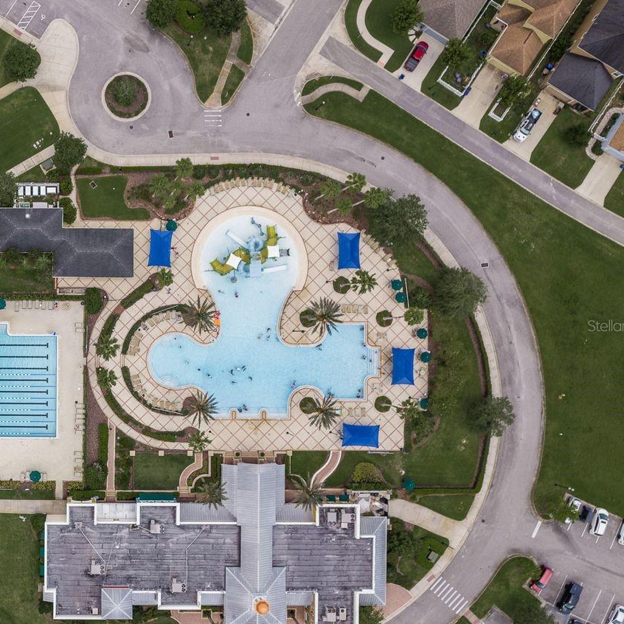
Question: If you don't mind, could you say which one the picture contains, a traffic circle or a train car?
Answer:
traffic circle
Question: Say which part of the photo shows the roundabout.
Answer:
top left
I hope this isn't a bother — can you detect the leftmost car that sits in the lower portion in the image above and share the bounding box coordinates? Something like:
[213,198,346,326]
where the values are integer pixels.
[531,565,551,592]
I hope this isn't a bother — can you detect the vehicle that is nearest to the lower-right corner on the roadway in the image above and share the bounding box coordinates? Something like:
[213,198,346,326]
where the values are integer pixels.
[604,603,624,624]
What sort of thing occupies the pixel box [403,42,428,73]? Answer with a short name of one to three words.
truck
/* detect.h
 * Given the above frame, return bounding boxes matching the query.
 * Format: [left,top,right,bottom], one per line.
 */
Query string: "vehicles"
[531,565,551,592]
[587,509,609,536]
[569,490,585,518]
[604,603,624,624]
[403,42,428,73]
[576,501,595,527]
[557,580,581,614]
[513,110,541,142]
[616,520,624,543]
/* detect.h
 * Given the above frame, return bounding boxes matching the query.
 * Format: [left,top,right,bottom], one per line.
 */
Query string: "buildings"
[40,461,386,624]
[0,208,136,277]
[600,114,624,161]
[413,0,487,45]
[540,0,624,113]
[483,0,579,76]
